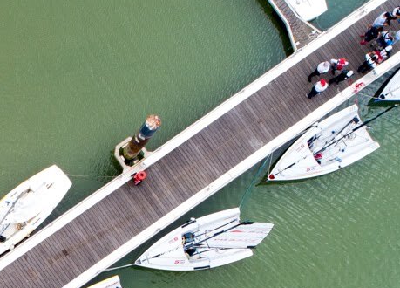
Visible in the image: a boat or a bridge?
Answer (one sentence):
This aerial view contains a boat.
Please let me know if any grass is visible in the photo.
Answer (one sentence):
No, there is no grass in the image.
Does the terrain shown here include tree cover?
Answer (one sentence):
No, the scene doesn't show any tree cover.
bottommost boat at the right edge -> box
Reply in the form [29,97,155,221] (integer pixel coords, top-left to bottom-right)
[266,103,396,182]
